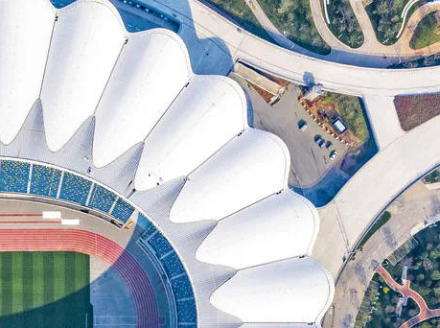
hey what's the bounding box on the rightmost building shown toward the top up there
[328,112,350,136]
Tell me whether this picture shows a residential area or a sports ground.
sports ground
